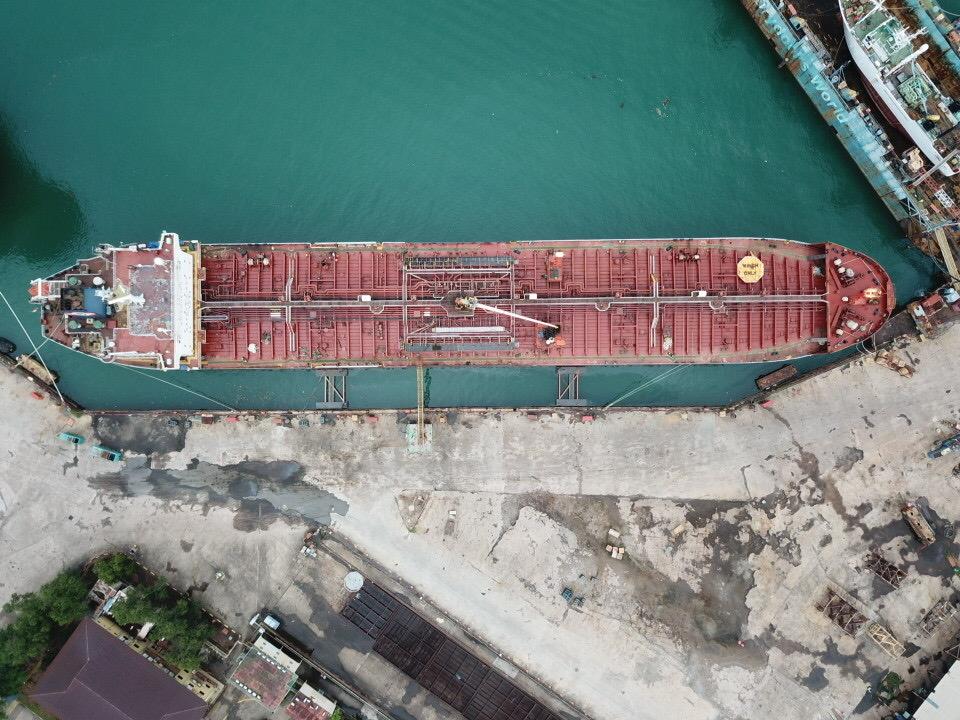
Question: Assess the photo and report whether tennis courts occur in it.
No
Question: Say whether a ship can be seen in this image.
Yes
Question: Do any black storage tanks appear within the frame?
No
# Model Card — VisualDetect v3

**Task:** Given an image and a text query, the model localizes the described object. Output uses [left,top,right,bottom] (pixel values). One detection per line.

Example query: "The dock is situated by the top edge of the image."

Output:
[737,0,960,272]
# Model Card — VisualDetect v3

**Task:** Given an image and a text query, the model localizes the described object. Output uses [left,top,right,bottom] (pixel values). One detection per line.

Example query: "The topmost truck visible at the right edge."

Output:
[931,433,960,459]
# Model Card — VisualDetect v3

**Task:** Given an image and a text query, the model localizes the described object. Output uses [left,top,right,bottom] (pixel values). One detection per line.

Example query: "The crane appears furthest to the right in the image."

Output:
[901,149,960,223]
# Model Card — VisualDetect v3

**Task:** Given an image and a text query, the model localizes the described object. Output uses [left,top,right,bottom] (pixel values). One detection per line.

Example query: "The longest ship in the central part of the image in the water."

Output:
[31,232,899,370]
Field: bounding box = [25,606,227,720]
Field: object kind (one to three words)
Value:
building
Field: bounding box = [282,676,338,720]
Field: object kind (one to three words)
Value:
building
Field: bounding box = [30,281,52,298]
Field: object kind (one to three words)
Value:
boat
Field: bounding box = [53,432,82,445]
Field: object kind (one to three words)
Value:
vehicle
